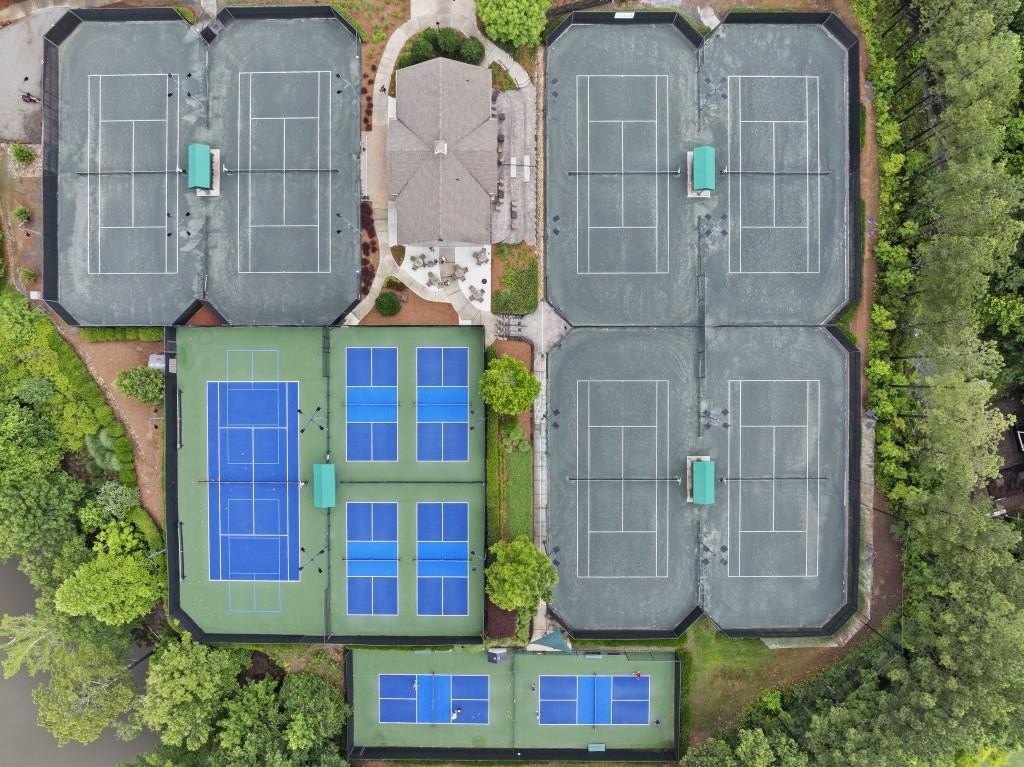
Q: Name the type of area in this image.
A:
sports ground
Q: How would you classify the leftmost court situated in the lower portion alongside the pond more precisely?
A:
tennis court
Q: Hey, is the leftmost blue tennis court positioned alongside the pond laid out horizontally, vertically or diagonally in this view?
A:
vertically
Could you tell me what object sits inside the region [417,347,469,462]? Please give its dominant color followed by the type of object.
blue sports court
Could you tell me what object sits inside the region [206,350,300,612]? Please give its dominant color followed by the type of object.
blue tennis court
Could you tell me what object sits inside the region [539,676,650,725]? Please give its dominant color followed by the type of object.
blue sports court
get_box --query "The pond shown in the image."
[0,551,155,767]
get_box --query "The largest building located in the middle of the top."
[387,57,497,249]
